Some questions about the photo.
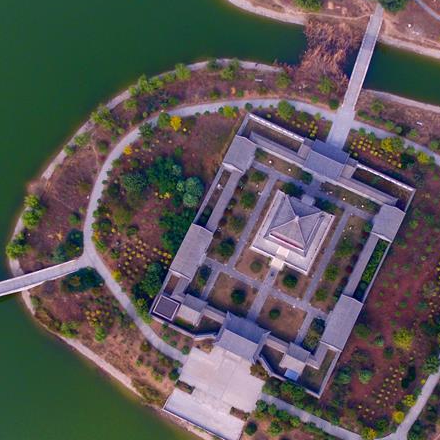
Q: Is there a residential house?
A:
Yes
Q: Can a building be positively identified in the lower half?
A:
Yes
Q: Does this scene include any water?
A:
Yes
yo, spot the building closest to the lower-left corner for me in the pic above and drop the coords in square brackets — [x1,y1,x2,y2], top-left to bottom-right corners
[153,296,179,321]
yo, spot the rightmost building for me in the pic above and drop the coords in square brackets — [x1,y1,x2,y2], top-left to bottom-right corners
[371,204,405,244]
